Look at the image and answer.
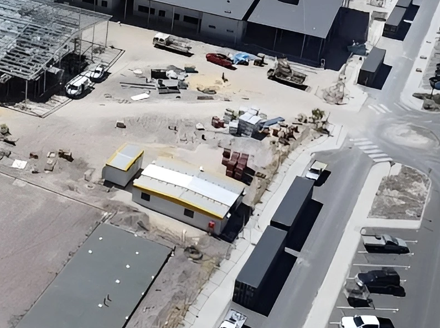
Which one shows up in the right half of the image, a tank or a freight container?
freight container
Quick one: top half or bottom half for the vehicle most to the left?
top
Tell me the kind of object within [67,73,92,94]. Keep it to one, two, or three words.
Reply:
vehicle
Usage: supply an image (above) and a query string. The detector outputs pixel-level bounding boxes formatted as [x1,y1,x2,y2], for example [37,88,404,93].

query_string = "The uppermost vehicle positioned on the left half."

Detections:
[155,30,193,55]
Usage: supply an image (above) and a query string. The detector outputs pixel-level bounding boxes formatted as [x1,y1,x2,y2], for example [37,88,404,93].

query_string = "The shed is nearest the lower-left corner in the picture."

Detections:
[106,144,143,185]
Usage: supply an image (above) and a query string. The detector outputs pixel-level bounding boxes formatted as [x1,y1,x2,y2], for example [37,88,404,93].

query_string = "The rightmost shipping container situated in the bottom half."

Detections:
[270,175,315,245]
